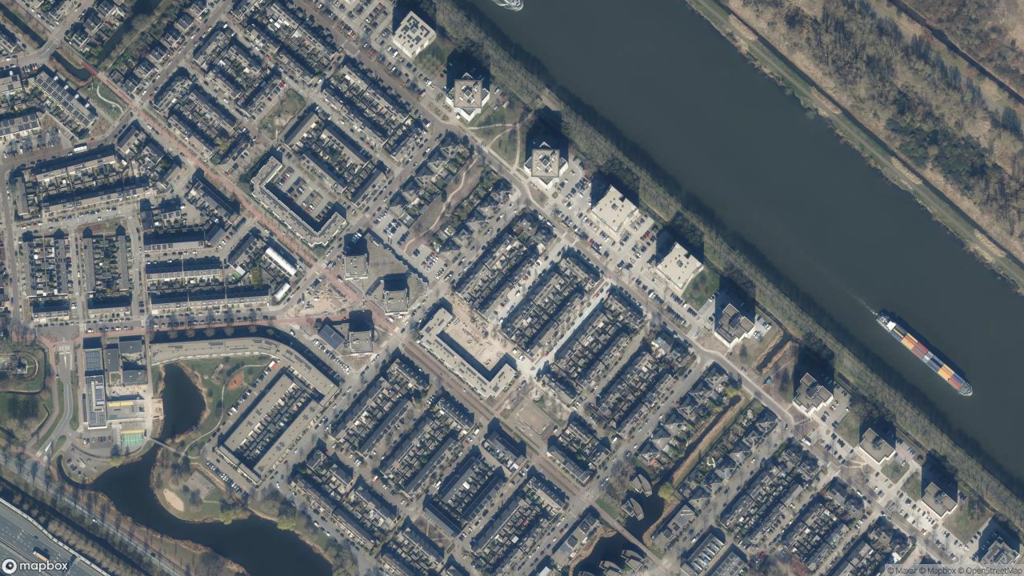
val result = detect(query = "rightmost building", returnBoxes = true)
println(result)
[980,537,1021,576]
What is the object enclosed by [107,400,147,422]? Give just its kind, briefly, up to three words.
building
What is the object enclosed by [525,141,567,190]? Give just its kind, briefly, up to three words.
building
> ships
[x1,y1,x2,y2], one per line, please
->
[874,315,973,394]
[502,0,523,10]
